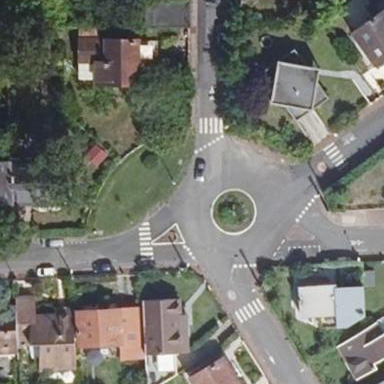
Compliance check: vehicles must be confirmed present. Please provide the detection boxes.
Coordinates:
[41,238,63,248]
[194,158,206,180]
[36,266,56,276]
[92,262,114,272]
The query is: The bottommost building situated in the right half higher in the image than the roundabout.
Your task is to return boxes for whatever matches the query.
[273,61,328,119]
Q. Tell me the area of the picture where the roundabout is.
center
